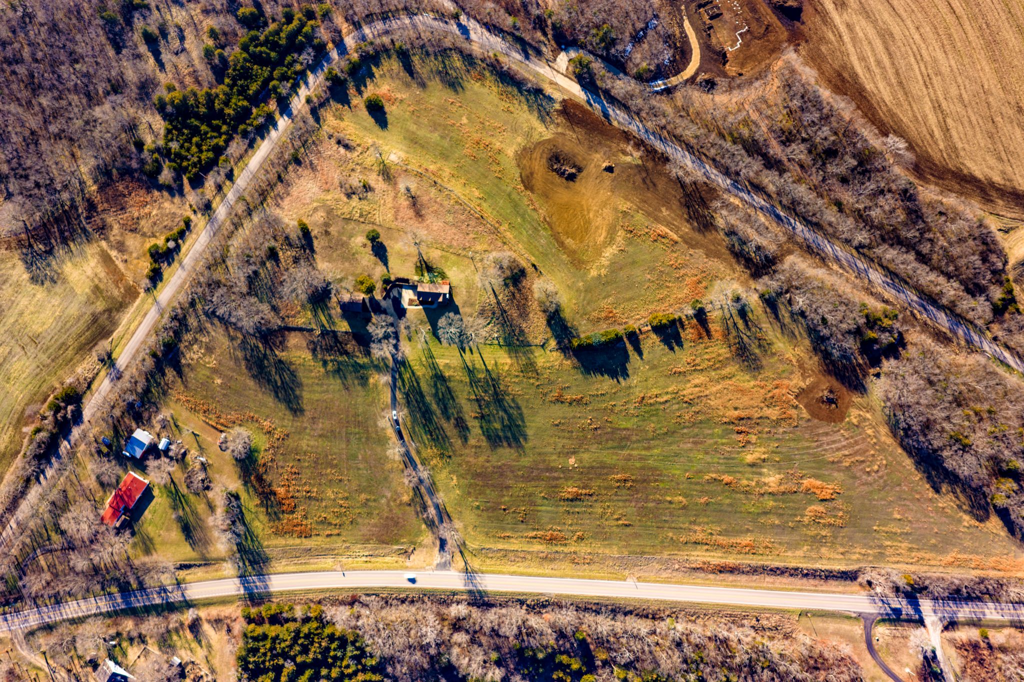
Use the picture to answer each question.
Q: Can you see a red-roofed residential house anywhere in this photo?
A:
Yes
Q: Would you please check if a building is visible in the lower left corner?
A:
Yes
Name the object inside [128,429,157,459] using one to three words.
building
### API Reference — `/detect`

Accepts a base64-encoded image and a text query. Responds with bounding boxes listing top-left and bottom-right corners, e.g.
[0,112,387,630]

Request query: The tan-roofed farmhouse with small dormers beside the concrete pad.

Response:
[417,283,450,307]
